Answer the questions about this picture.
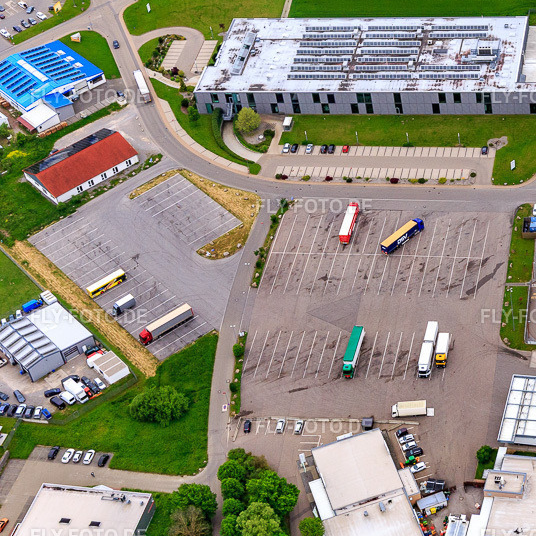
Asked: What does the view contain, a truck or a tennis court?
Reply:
truck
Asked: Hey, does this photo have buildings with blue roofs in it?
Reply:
Yes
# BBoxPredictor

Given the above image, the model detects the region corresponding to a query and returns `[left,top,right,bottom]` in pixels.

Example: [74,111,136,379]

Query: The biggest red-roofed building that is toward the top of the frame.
[23,128,139,204]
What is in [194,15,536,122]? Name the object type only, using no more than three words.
building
